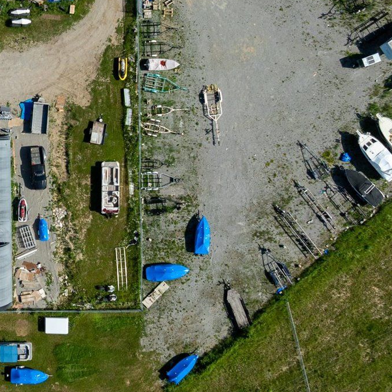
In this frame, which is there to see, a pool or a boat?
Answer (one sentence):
Looking from above, you can make out a boat.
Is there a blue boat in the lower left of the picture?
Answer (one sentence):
Yes, you'll find a blue boat in the lower left of the picture.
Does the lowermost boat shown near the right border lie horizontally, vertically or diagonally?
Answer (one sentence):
I'd say the lowermost boat shown near the right border is aligned diagonally in the picture.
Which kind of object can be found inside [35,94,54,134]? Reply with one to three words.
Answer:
trailer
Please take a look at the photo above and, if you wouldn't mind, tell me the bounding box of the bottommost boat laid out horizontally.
[6,367,50,384]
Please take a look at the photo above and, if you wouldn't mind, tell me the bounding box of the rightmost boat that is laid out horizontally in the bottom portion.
[145,262,188,282]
